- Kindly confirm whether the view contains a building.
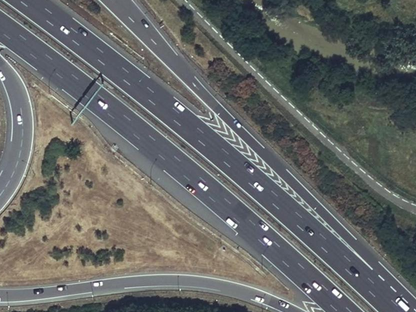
No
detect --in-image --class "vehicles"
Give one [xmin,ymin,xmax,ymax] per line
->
[259,220,268,230]
[253,180,264,190]
[234,118,242,128]
[305,226,314,235]
[93,281,103,286]
[254,295,264,302]
[225,216,238,228]
[302,283,311,292]
[140,18,150,28]
[396,296,410,310]
[331,288,342,298]
[0,70,5,80]
[17,114,22,124]
[312,281,322,290]
[60,25,70,34]
[78,27,88,36]
[184,182,196,192]
[56,284,66,290]
[97,98,108,108]
[174,101,186,112]
[196,180,208,190]
[262,236,272,244]
[33,288,44,294]
[350,266,360,276]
